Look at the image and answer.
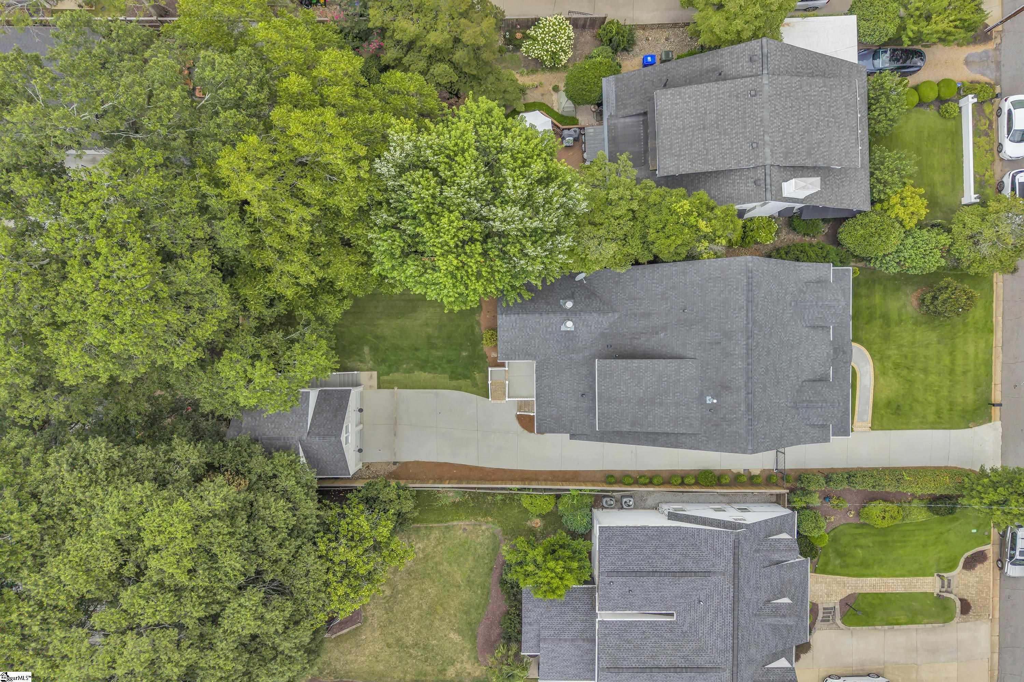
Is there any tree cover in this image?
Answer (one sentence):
Yes, the picture does contain tree cover.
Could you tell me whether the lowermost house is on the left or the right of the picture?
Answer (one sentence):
The lowermost house sits on the right side.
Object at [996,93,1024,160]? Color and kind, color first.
white car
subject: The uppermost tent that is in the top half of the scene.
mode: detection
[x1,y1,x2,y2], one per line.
[558,90,578,118]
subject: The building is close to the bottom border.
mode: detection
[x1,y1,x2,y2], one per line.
[521,504,811,682]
